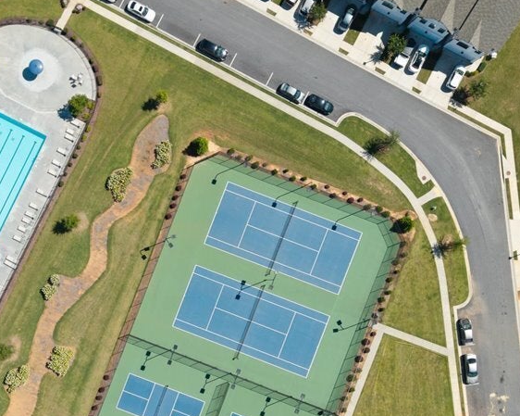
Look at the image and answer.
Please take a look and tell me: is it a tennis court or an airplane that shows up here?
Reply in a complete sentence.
Visible in the photo is a tennis court.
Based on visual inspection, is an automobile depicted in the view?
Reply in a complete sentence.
Yes, this view includes an automobile.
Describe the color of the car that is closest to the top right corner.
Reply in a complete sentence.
The car that is closest to the top right corner is white.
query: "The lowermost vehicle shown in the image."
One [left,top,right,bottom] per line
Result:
[462,353,478,383]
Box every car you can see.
[462,353,478,383]
[284,0,299,10]
[196,39,227,62]
[445,62,467,92]
[126,1,155,23]
[407,43,430,74]
[276,81,305,104]
[299,0,317,17]
[337,3,358,34]
[457,316,473,346]
[303,93,333,116]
